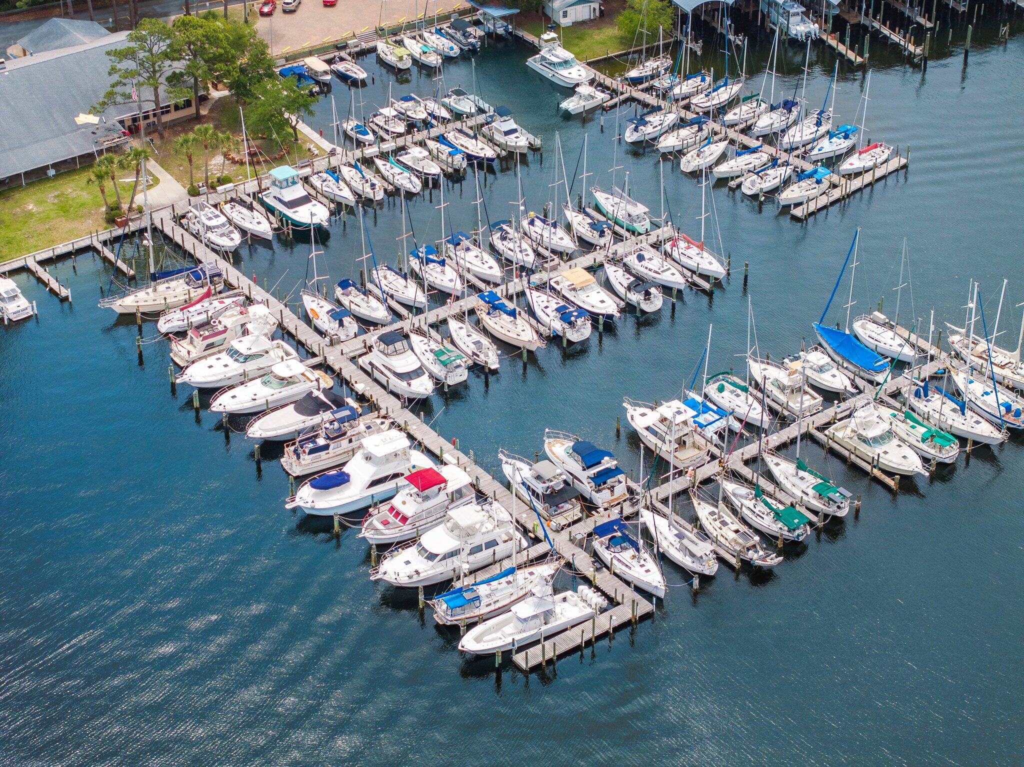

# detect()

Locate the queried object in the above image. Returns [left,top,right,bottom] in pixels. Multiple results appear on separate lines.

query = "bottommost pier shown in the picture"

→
[510,606,642,676]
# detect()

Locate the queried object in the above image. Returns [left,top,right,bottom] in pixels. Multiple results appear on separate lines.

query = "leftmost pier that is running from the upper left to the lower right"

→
[27,257,69,302]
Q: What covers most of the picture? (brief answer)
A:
water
